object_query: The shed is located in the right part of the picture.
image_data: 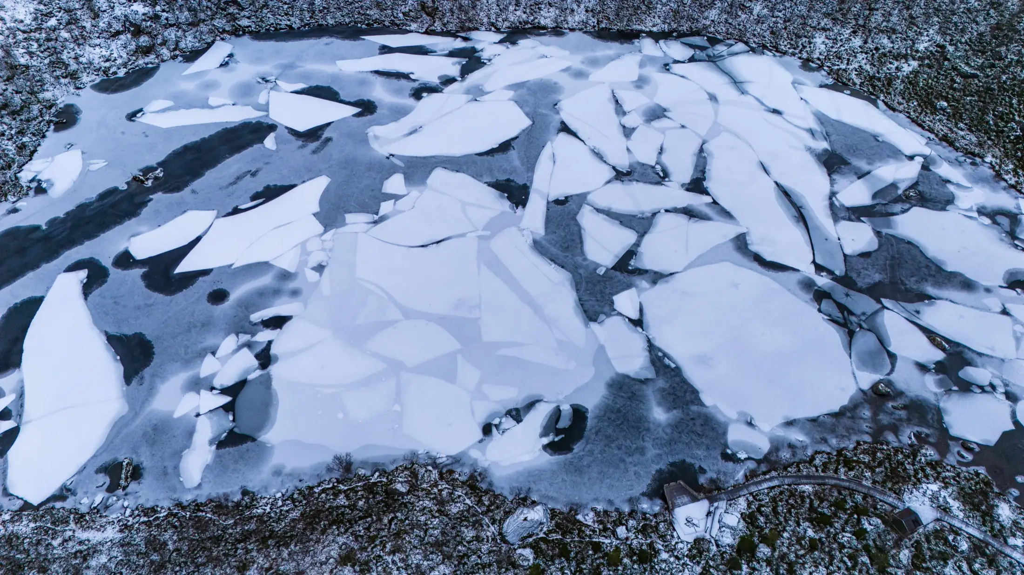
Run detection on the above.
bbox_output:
[886,508,924,538]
